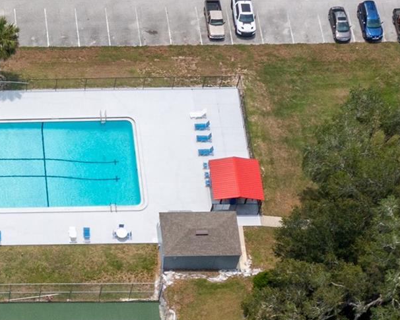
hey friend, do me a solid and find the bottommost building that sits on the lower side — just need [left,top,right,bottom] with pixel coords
[157,213,242,274]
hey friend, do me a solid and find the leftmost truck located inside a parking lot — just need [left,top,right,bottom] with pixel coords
[202,0,225,39]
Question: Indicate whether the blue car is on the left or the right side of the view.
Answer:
right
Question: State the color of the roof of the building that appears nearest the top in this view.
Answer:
red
